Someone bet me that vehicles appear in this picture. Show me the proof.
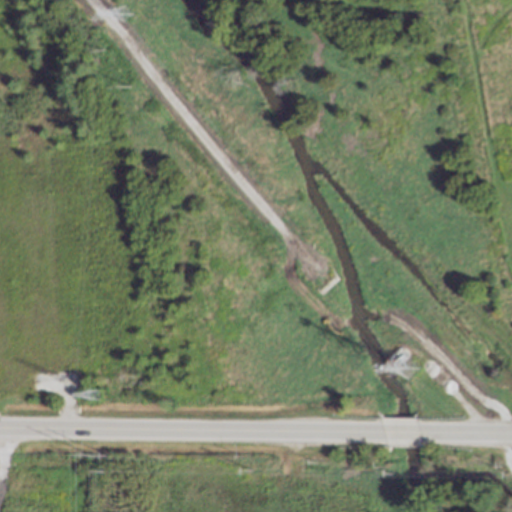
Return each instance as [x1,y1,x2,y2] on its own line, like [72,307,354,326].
[75,430,90,438]
[322,318,336,329]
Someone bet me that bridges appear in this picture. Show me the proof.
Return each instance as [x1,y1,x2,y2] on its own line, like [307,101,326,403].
[380,412,426,454]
